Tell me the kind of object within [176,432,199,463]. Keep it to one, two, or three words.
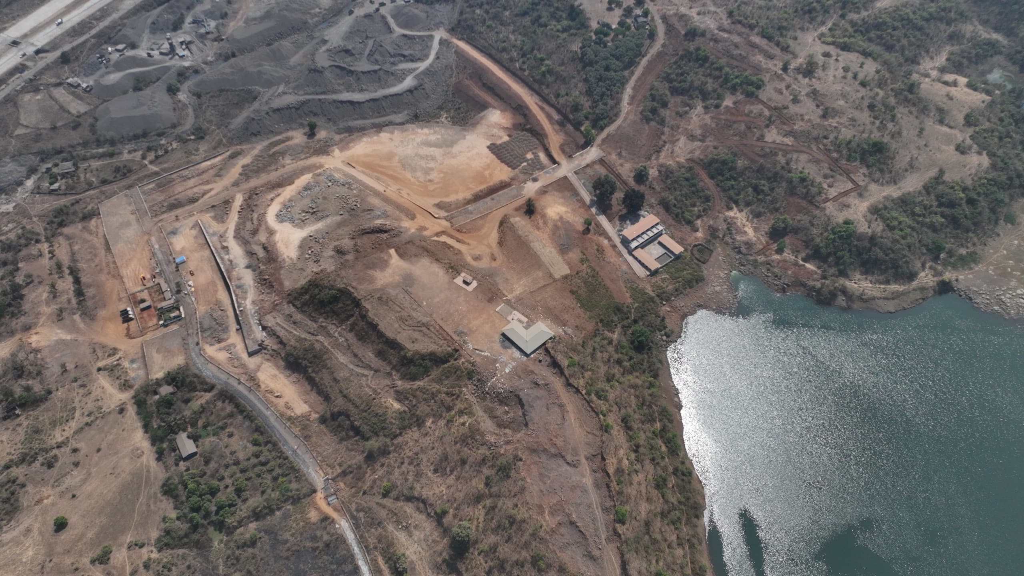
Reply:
house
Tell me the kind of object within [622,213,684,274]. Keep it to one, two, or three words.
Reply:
house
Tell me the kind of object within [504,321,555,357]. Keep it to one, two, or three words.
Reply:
building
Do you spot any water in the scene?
Yes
